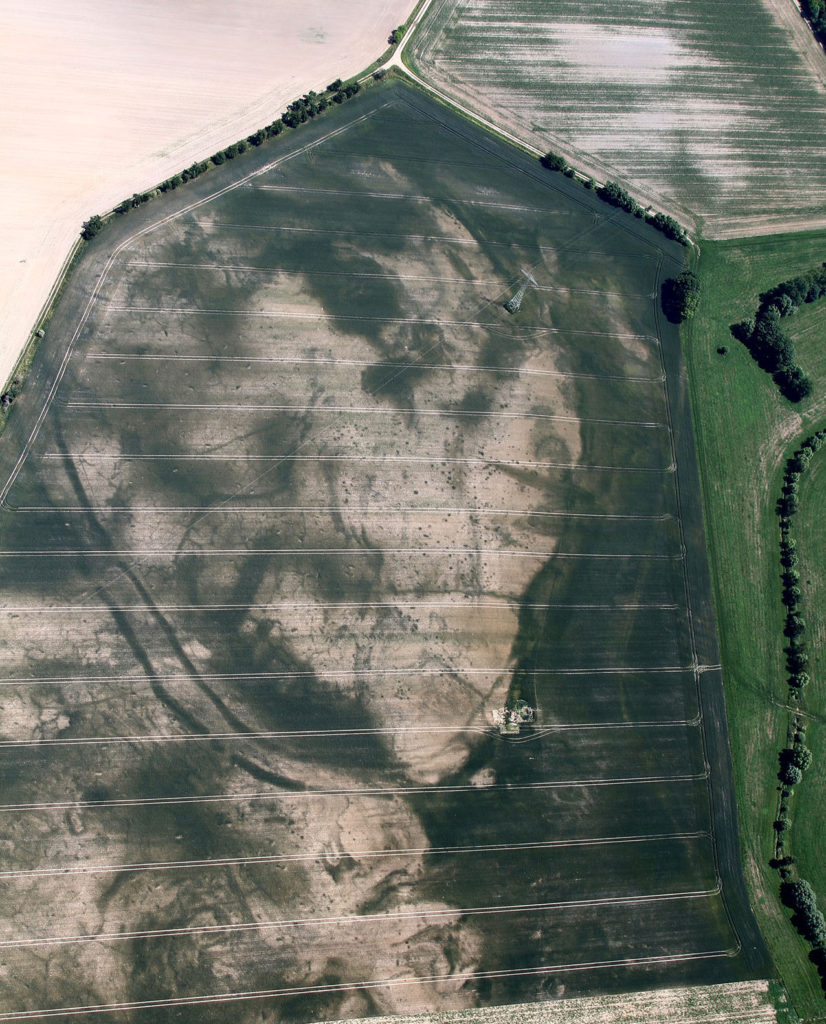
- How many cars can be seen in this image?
none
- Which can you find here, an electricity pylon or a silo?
electricity pylon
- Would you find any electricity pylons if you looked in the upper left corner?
No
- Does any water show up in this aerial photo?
No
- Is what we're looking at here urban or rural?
rural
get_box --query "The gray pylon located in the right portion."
[503,268,538,315]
